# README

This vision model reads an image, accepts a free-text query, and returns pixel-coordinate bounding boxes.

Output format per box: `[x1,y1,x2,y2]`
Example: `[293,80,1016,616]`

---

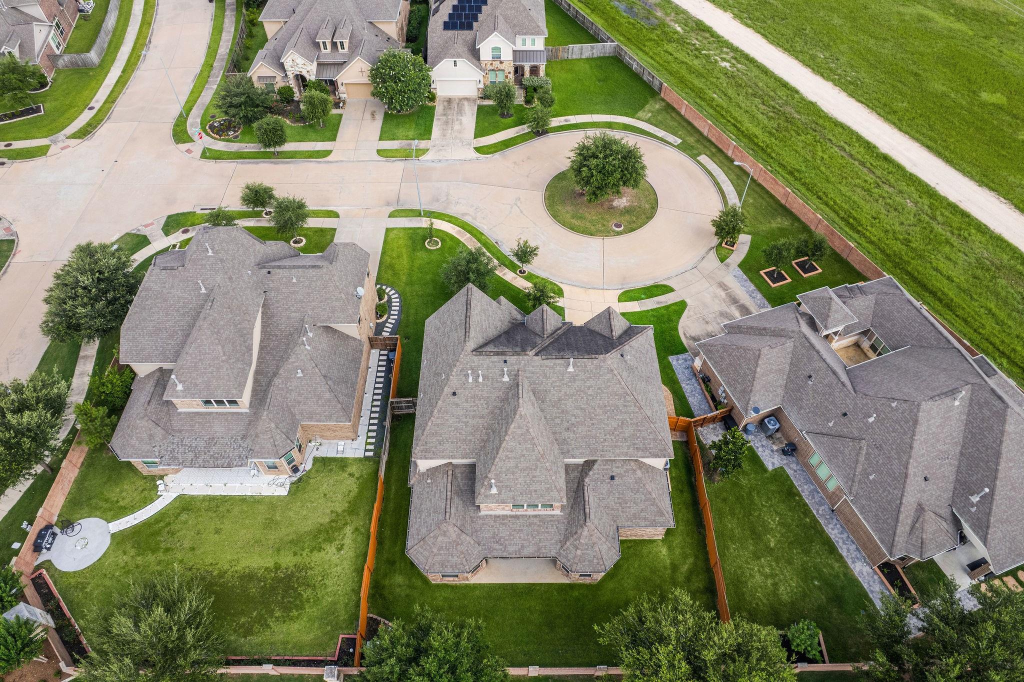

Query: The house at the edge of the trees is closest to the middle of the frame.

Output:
[404,283,677,583]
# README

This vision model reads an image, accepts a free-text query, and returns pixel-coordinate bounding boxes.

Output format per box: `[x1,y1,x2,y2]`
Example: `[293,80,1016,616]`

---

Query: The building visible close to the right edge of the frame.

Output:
[694,276,1024,579]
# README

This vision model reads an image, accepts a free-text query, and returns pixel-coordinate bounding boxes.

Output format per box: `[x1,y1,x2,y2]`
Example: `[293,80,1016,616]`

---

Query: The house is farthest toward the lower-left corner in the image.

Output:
[107,225,378,480]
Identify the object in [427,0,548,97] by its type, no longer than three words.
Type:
house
